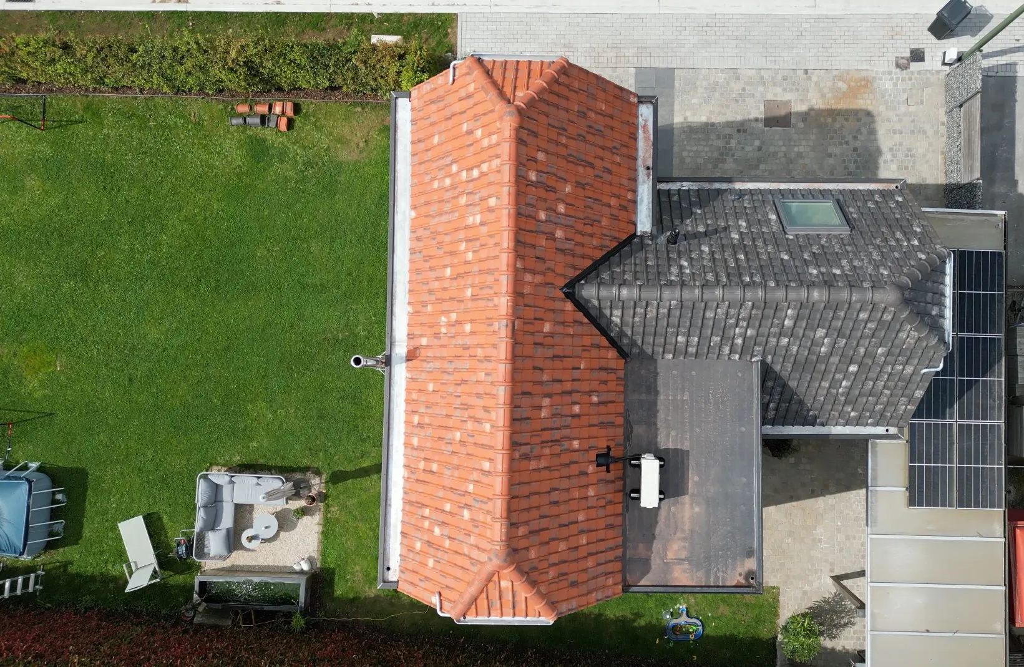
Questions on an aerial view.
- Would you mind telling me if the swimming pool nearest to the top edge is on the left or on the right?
left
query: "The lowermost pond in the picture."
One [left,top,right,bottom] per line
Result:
[194,571,312,610]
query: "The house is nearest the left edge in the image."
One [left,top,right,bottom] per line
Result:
[351,48,656,628]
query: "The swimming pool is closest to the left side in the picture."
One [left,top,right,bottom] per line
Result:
[0,461,66,558]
